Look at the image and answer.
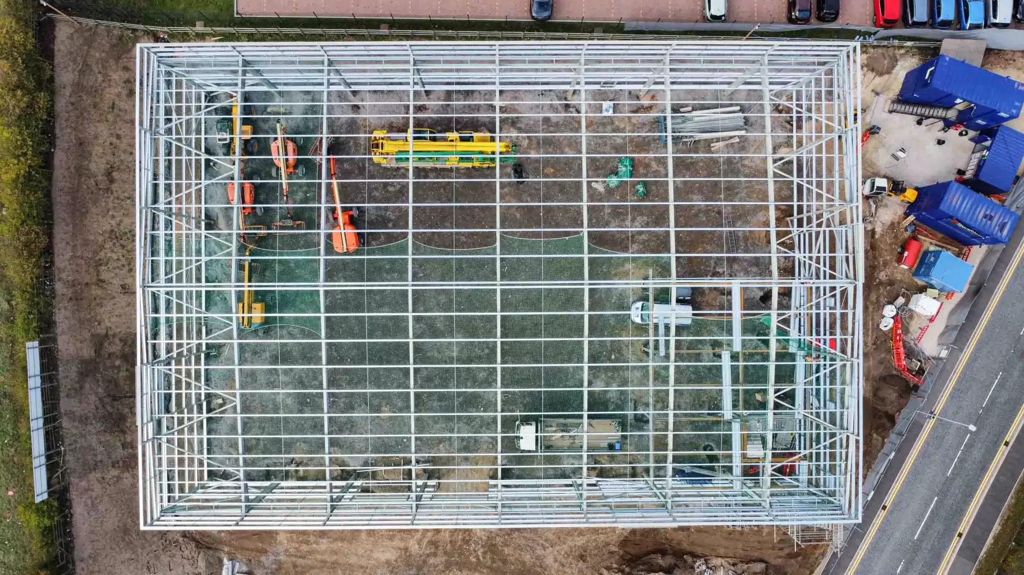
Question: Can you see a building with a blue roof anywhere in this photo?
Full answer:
Yes, a building with a blue roof appears in the view.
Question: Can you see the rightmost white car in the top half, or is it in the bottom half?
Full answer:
The rightmost white car sits in the top half of the picture.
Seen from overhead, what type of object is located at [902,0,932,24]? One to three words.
car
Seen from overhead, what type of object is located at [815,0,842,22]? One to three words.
car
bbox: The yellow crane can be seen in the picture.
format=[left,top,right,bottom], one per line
[369,128,519,169]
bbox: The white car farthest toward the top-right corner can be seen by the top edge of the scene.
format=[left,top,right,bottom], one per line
[986,0,1017,27]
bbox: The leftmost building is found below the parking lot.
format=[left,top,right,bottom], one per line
[135,41,865,530]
